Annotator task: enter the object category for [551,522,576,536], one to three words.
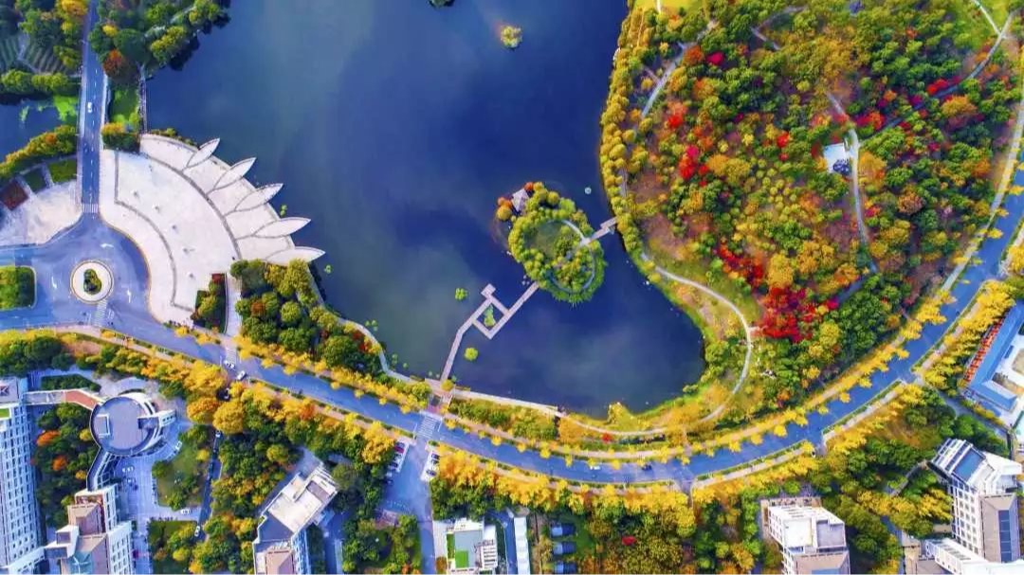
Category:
shed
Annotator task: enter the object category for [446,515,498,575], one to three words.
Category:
building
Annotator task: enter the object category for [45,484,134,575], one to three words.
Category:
building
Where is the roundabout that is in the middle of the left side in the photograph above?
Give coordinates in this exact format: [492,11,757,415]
[71,261,113,302]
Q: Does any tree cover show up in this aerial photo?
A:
Yes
